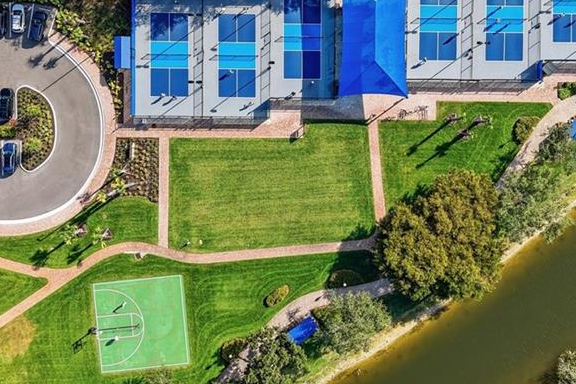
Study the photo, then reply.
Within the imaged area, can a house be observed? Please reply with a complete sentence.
No, this view has no house in it.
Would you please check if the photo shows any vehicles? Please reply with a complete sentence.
Yes, a vehicle appears in the view.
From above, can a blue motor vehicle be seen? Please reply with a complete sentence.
Yes, a blue motor vehicle can be made out from above.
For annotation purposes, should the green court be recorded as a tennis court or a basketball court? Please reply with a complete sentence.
The green court is a basketball court.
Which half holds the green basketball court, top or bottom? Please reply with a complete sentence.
It is in the bottom half that the green basketball court appears.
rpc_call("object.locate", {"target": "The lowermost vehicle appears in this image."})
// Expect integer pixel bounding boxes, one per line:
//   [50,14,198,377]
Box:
[2,142,18,173]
